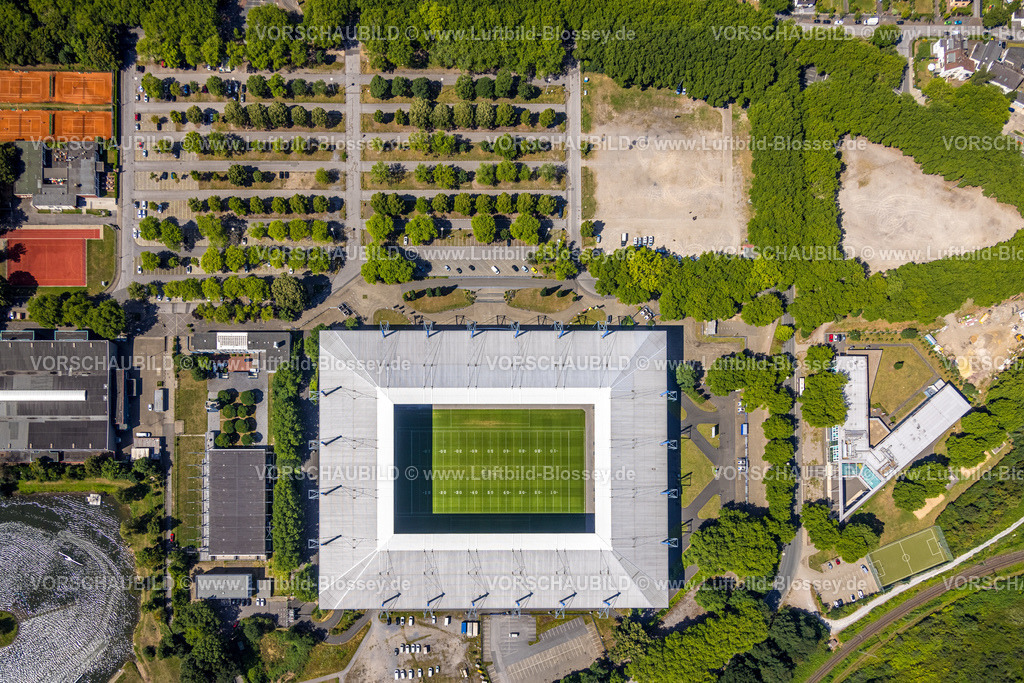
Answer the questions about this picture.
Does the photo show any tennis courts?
Yes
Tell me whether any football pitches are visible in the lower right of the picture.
Yes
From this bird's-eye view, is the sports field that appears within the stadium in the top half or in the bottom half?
bottom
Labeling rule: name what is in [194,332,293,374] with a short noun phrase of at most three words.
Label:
building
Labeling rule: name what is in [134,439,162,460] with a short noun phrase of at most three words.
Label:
shed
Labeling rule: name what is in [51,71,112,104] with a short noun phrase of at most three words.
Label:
tennis court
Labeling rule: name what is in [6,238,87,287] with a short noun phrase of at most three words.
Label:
sports court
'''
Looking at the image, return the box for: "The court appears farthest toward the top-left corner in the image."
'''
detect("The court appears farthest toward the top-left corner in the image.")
[0,71,51,103]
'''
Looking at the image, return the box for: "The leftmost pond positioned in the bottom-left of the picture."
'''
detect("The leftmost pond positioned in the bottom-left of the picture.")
[0,492,141,683]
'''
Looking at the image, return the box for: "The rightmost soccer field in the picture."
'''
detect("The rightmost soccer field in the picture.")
[870,526,952,583]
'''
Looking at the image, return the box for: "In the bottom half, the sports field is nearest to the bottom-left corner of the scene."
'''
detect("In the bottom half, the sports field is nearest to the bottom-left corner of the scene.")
[394,404,595,534]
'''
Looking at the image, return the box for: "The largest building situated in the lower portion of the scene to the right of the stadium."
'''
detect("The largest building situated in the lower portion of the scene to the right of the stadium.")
[829,356,970,523]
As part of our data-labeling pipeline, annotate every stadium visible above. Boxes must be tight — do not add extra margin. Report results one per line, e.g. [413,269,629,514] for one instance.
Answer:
[311,325,675,616]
